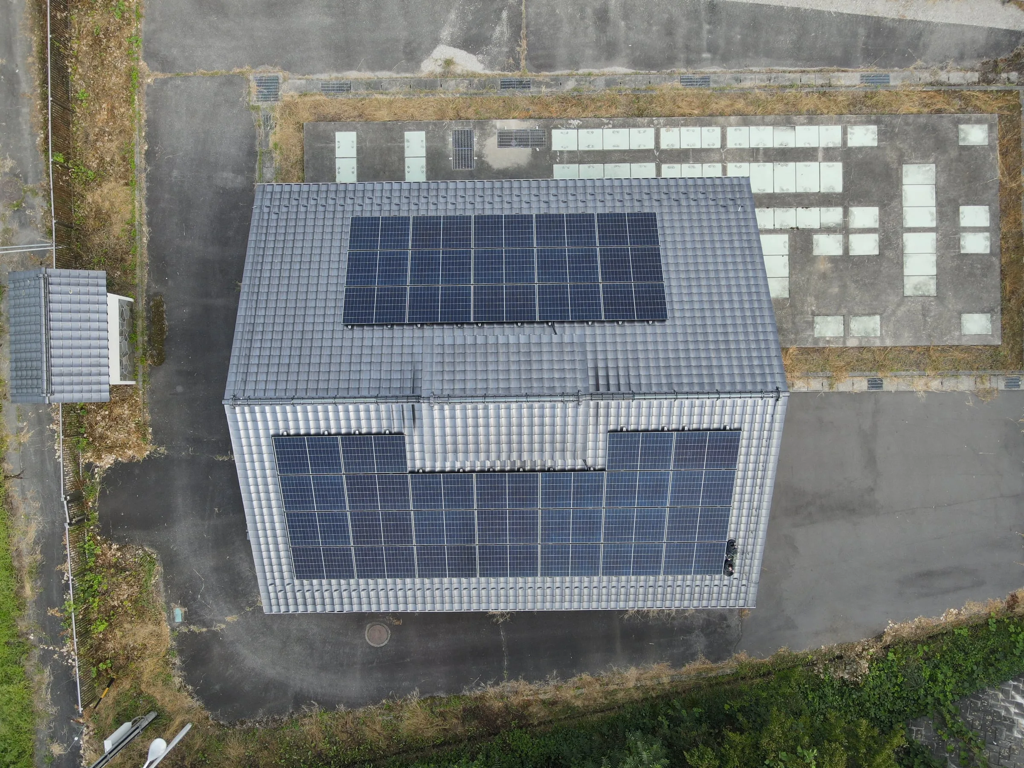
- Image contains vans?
No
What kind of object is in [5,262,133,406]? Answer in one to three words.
shed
